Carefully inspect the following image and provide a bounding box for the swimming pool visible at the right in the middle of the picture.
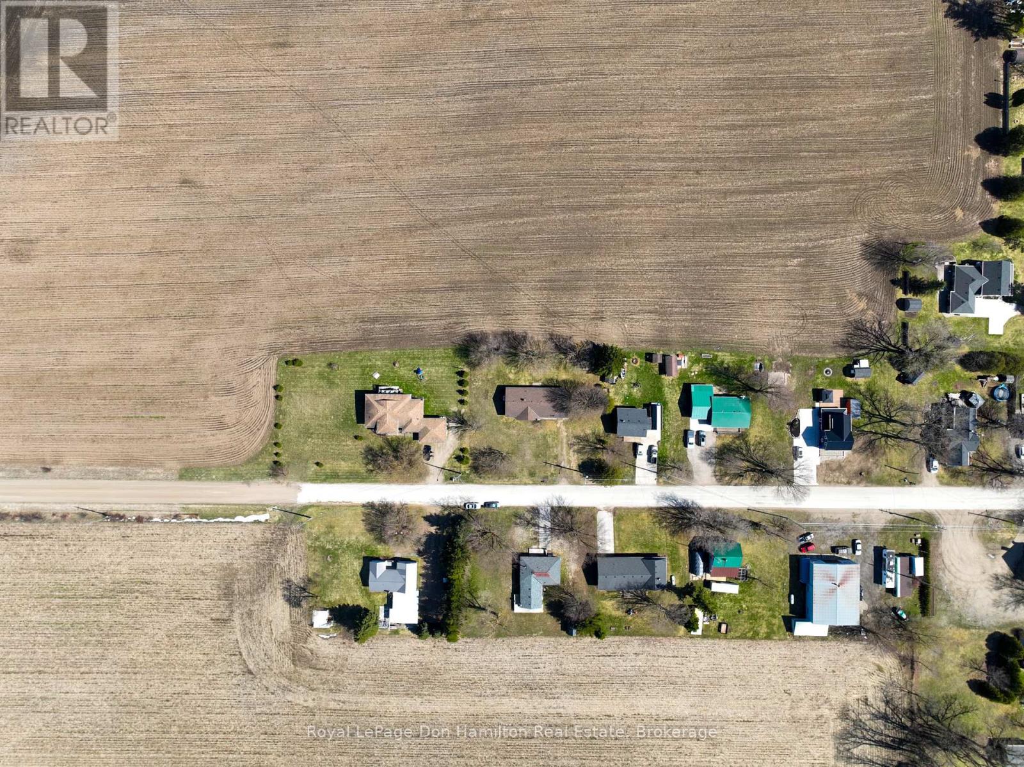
[992,383,1012,401]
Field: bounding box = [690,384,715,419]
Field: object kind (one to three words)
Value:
building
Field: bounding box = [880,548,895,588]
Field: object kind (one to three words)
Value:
camper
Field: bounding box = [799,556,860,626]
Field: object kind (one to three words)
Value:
barn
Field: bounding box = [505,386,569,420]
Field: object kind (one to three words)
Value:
house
